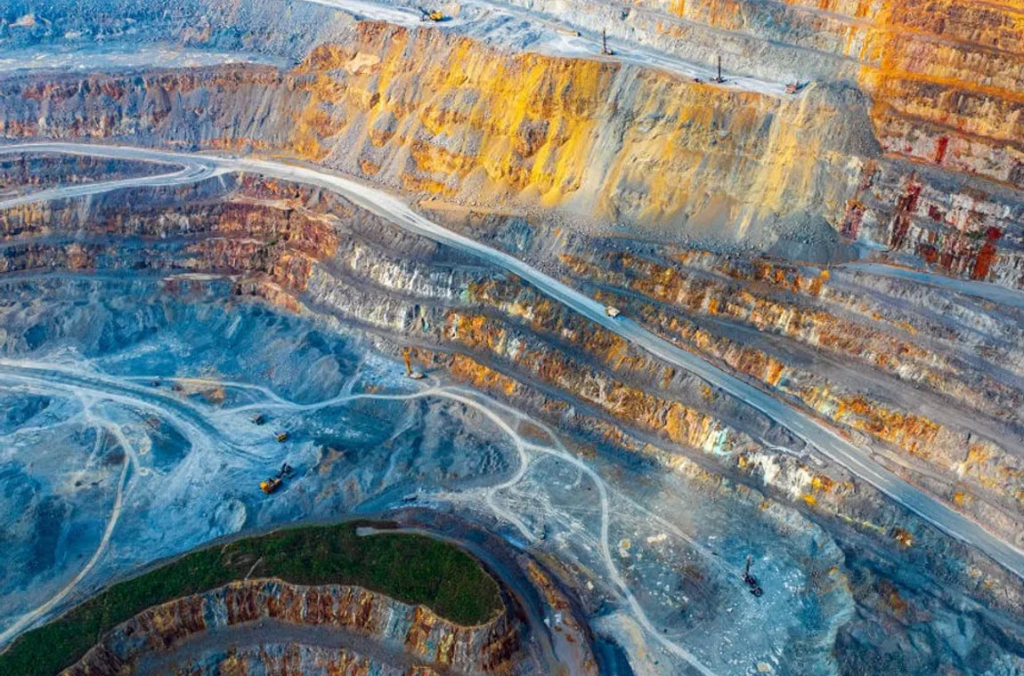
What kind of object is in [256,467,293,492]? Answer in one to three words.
work vehicle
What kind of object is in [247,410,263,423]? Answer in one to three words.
vehicle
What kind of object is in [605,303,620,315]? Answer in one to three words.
vehicle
